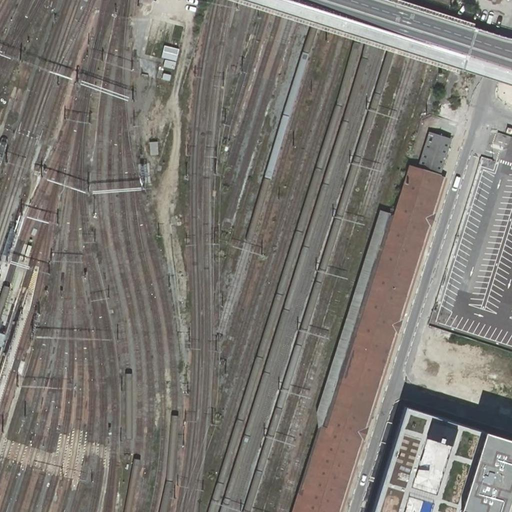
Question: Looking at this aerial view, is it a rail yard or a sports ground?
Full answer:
This image shows a rail yard.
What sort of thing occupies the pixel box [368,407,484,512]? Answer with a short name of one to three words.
building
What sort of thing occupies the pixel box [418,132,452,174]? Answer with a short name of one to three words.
building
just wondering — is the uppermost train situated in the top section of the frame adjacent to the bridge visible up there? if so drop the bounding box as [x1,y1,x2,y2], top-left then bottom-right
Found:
[248,22,321,240]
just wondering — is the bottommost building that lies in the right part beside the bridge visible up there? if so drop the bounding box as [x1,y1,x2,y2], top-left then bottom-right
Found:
[290,165,445,512]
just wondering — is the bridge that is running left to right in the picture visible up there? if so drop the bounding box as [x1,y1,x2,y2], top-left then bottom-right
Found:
[218,0,512,81]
